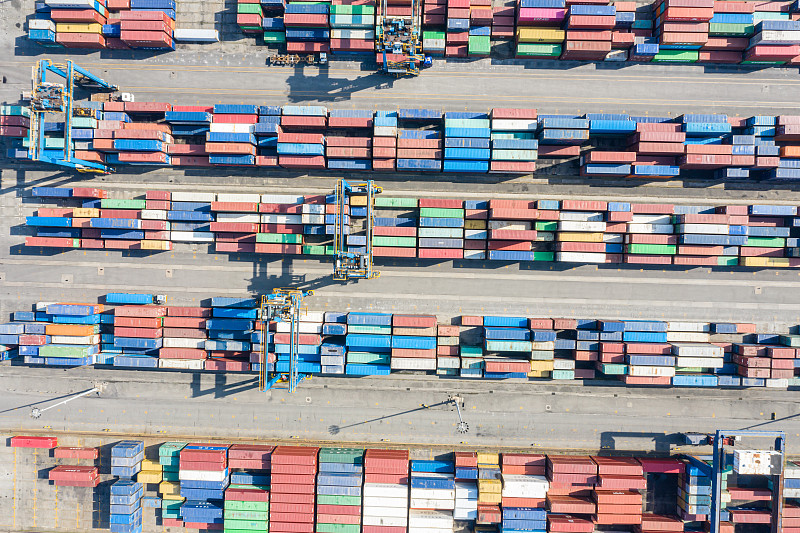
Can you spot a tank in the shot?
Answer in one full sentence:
No, no tank is visible in the view.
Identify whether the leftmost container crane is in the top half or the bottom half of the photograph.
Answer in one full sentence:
You can find the leftmost container crane in the top half.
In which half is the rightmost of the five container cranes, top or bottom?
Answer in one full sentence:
The bottom half of the photo is where the rightmost of the five container cranes is.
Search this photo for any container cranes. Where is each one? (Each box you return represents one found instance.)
[678,432,787,533]
[259,281,317,397]
[38,56,123,181]
[335,176,385,284]
[377,0,422,81]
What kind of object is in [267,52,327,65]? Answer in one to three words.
vehicle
